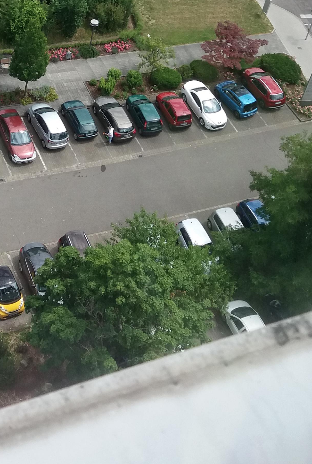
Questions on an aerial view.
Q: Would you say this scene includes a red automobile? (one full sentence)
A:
Yes, a red automobile is visible in the scene.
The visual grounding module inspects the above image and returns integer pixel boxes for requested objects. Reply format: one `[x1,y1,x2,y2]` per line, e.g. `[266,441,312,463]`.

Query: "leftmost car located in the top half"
[0,110,35,163]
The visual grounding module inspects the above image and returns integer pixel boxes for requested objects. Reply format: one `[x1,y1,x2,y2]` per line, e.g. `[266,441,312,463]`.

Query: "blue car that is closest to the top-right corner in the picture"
[219,82,259,119]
